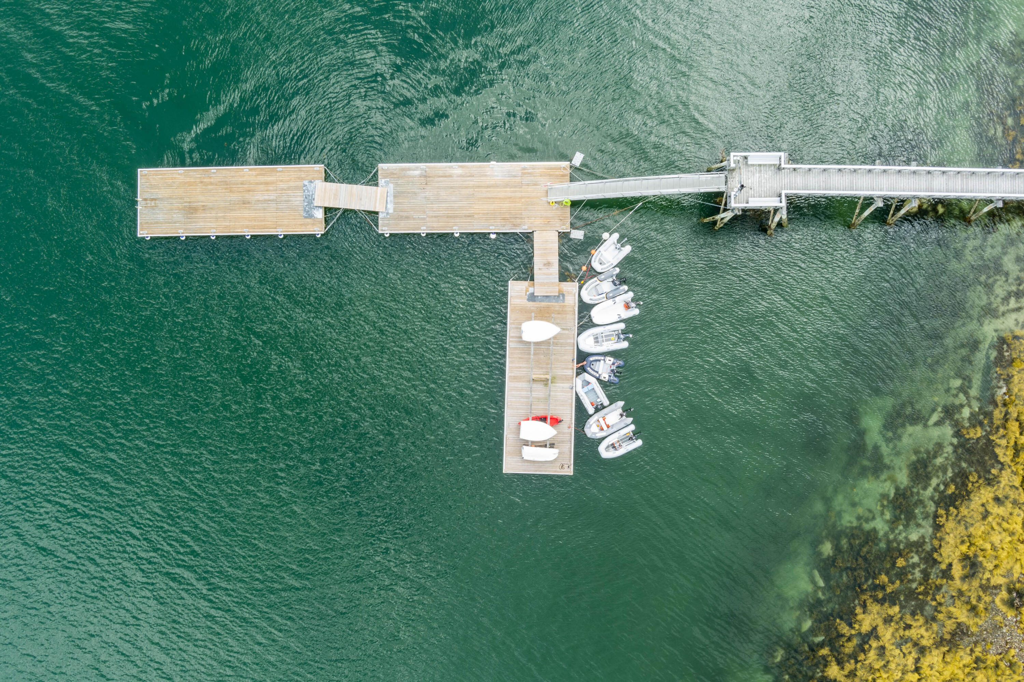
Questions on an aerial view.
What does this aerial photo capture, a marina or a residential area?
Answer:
marina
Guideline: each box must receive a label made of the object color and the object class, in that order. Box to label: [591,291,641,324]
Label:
white boat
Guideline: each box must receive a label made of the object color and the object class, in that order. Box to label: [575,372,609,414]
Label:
white boat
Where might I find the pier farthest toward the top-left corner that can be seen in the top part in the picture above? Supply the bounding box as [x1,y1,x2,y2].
[135,165,326,237]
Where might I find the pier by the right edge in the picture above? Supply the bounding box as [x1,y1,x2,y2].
[698,152,1024,236]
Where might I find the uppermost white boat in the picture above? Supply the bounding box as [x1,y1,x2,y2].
[590,231,632,272]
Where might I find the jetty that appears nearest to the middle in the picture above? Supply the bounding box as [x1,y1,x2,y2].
[503,281,578,475]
